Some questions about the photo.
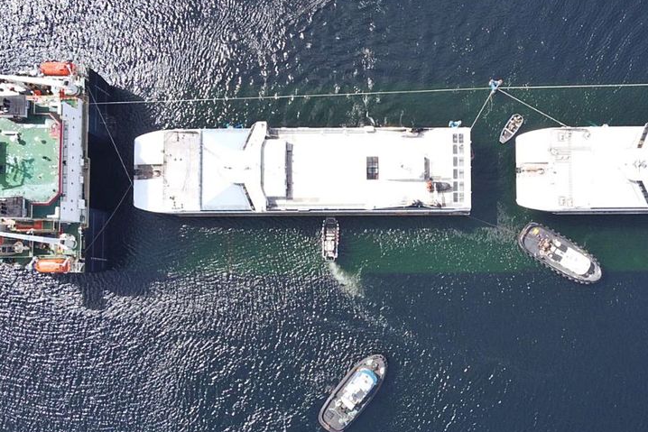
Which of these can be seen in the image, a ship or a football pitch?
ship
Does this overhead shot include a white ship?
Yes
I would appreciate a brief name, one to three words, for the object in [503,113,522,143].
boat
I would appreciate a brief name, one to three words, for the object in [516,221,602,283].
boat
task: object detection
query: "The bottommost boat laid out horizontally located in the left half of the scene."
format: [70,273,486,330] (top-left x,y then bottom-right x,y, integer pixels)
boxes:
[35,258,74,274]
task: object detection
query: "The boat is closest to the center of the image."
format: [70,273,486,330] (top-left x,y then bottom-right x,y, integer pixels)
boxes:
[321,217,339,263]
